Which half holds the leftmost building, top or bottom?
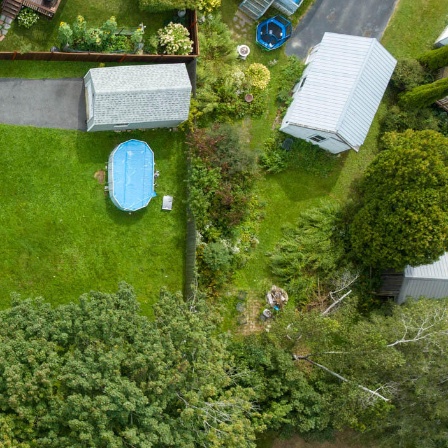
top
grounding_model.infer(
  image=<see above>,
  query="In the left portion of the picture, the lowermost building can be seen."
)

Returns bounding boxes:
[85,63,192,130]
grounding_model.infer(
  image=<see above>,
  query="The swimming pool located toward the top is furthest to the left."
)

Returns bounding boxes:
[103,139,158,213]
